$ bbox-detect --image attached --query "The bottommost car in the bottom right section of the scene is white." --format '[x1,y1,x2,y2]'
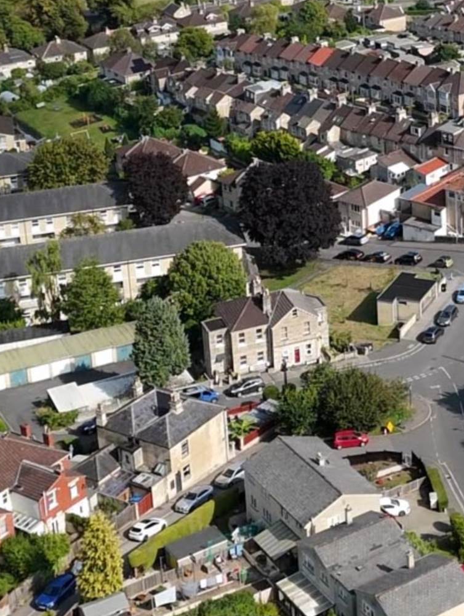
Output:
[381,493,414,517]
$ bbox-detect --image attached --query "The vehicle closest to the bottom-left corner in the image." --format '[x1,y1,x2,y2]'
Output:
[35,571,77,607]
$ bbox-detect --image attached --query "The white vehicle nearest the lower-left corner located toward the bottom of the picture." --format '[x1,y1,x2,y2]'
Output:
[127,514,169,541]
